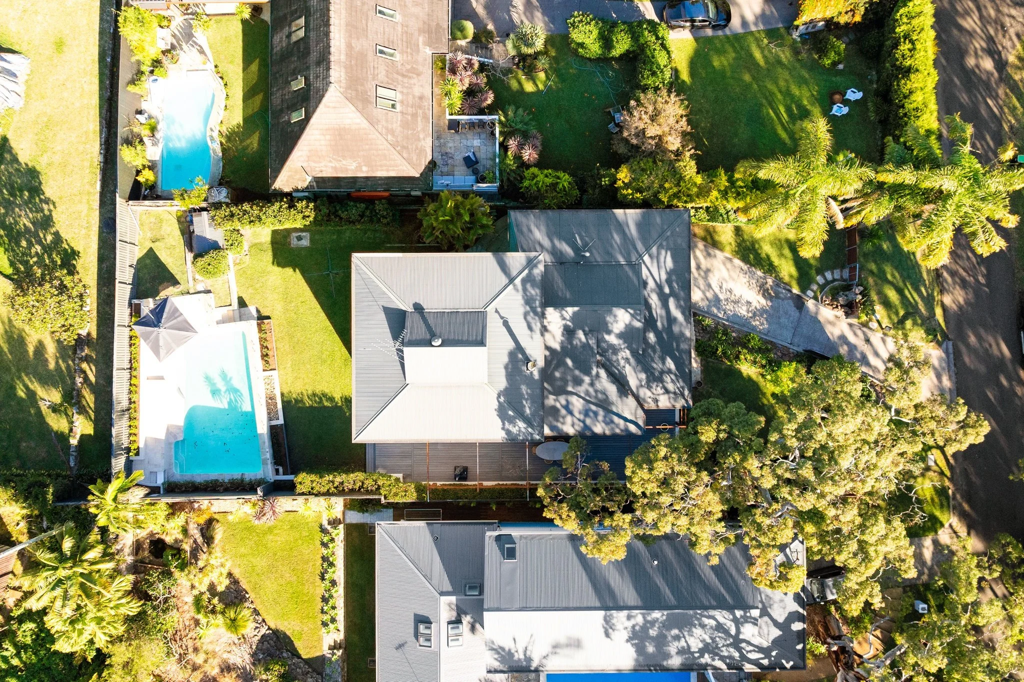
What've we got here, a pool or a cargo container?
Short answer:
pool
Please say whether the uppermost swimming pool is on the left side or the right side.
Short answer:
left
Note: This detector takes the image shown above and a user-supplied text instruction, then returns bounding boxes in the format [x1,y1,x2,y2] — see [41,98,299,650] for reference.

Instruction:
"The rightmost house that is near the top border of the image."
[268,0,451,194]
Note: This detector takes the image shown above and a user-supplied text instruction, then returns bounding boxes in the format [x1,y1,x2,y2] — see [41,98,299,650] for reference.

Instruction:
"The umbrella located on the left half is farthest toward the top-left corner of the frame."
[132,296,199,362]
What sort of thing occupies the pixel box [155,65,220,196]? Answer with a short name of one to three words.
swimming pool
